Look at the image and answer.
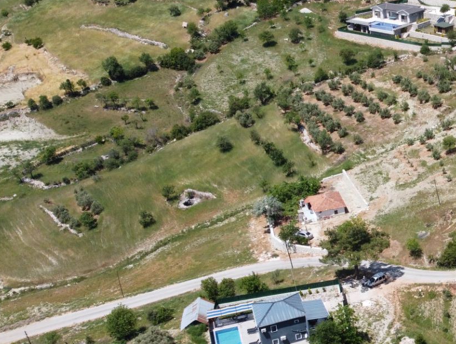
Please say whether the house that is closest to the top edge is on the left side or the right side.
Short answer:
right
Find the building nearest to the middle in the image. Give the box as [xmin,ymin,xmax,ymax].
[300,188,348,226]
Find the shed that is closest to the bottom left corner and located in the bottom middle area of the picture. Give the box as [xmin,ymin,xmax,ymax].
[177,289,208,323]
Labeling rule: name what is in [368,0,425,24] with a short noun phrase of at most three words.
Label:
house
